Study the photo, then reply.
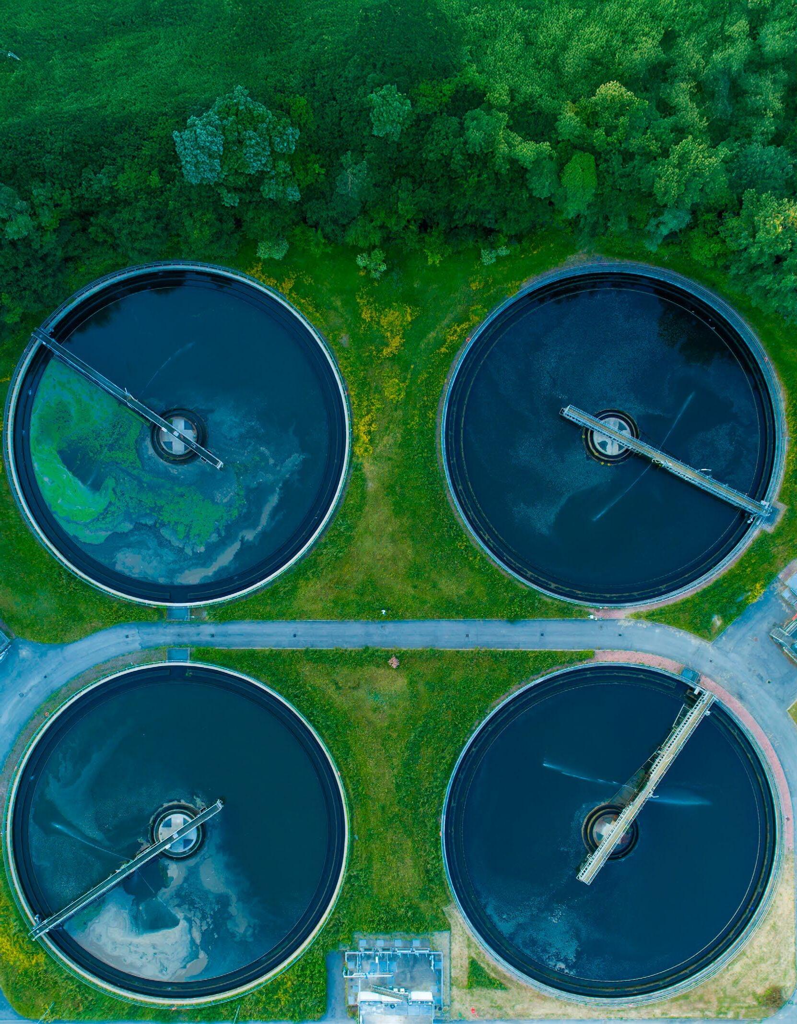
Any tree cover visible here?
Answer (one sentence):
Yes, some tree cover is visible.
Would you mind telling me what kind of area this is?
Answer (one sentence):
This image shows an industrial area.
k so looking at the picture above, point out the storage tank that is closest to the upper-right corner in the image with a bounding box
[440,261,787,608]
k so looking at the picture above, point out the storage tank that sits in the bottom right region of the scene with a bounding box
[440,663,787,1011]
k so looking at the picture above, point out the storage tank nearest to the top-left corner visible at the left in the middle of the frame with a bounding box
[3,262,349,608]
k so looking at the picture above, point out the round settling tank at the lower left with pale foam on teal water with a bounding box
[2,663,348,1010]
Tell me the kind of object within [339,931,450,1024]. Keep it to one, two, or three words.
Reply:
building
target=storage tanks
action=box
[3,262,349,608]
[440,261,787,608]
[2,663,348,1010]
[440,663,787,1011]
